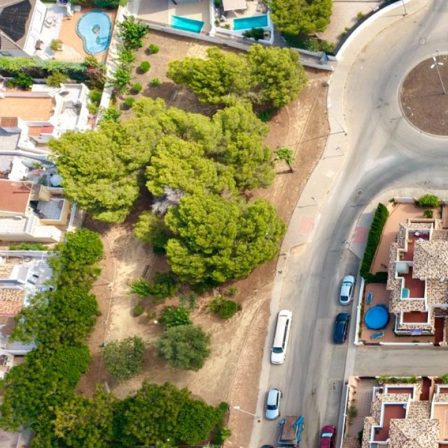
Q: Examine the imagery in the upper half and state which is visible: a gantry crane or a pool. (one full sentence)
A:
There is a pool in the upper half.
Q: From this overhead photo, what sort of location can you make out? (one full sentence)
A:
The area seen from above is a residential area.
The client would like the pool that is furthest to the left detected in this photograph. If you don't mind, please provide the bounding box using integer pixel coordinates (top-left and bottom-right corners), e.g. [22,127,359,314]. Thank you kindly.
[75,8,114,54]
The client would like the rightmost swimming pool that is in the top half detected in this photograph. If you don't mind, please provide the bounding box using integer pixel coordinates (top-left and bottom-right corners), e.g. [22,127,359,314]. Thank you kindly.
[232,14,269,32]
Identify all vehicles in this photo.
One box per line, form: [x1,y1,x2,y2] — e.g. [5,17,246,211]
[282,415,307,448]
[339,278,355,303]
[272,309,293,366]
[320,426,337,448]
[332,313,350,343]
[263,388,282,420]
